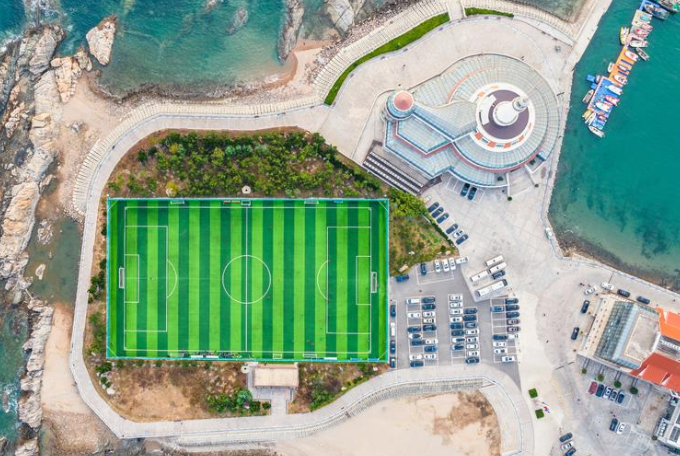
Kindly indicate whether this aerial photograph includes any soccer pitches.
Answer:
Yes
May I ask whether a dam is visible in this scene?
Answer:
No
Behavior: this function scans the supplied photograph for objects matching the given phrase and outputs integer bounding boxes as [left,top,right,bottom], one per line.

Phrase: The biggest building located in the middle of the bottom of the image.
[249,362,299,417]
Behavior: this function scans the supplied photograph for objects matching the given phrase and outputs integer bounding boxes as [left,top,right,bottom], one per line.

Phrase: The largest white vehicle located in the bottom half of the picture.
[474,279,507,296]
